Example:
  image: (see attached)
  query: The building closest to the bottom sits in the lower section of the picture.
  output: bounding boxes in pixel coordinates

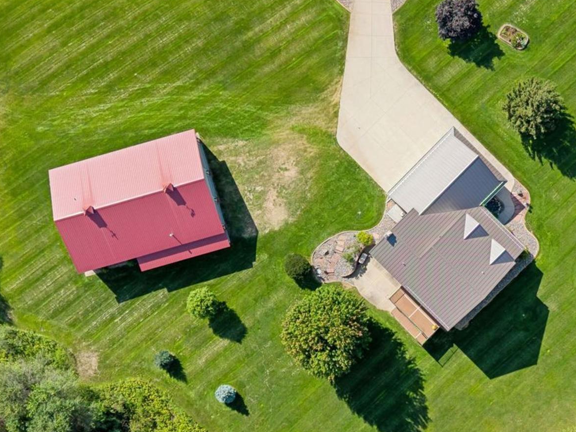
[369,202,523,332]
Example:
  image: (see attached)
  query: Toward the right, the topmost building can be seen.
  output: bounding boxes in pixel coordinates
[386,127,508,214]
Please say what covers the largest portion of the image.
grass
